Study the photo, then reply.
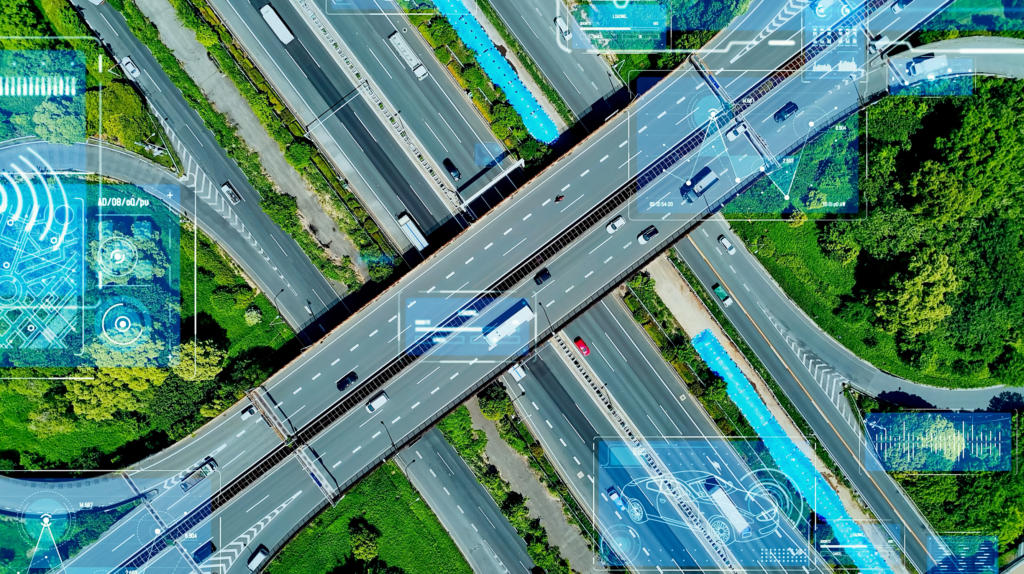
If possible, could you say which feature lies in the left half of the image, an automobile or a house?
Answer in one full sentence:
There is an automobile in the left half of the image.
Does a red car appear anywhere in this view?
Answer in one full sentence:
Yes, looking at the shot, I can spot a red car.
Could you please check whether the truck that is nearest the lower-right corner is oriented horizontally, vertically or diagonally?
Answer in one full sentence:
What the image shows is the truck that is nearest the lower-right corner lying diagonally.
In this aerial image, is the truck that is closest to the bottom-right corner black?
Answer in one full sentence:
No, the color of the truck that is closest to the bottom-right corner is white.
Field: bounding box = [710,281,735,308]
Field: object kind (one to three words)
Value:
truck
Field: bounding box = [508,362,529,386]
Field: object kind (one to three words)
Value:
truck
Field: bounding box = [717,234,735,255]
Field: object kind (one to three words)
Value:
car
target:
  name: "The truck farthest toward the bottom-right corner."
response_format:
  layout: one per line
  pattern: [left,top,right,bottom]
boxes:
[707,480,752,536]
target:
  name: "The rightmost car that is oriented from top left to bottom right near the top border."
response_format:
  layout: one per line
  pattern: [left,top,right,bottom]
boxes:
[554,16,572,40]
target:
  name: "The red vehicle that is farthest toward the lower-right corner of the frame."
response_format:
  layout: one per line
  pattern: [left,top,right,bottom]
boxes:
[573,336,591,356]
